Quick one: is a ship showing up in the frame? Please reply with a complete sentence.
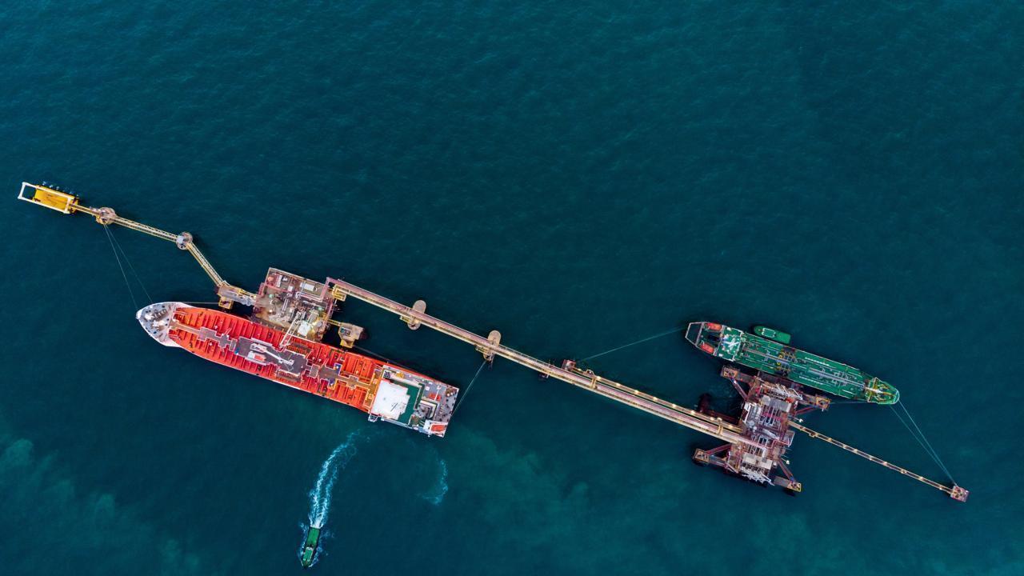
Yes, you can see a ship in this photo.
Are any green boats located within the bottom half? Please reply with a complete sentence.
Yes, there is a green boat within the bottom half.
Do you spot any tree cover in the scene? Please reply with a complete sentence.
No, the picture contains no tree cover.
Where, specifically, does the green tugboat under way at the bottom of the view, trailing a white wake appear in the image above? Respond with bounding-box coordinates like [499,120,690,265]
[302,527,322,569]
